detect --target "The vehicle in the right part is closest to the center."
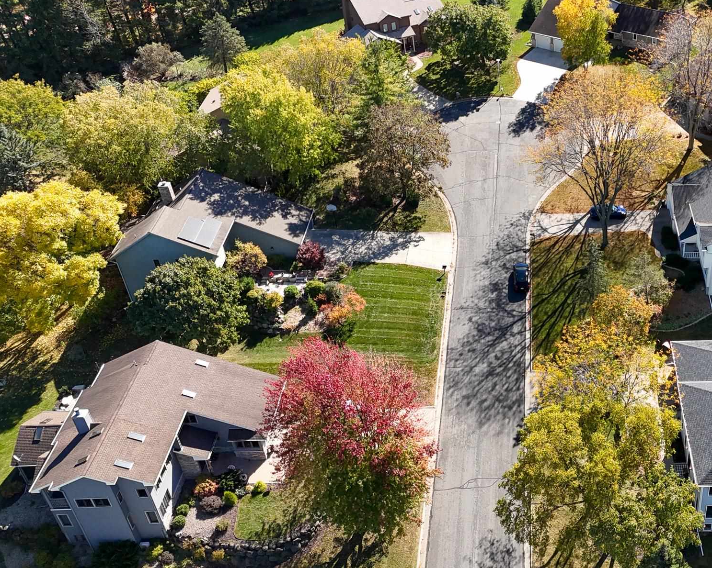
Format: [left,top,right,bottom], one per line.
[513,261,531,286]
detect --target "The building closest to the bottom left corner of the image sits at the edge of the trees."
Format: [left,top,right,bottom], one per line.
[4,337,289,536]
